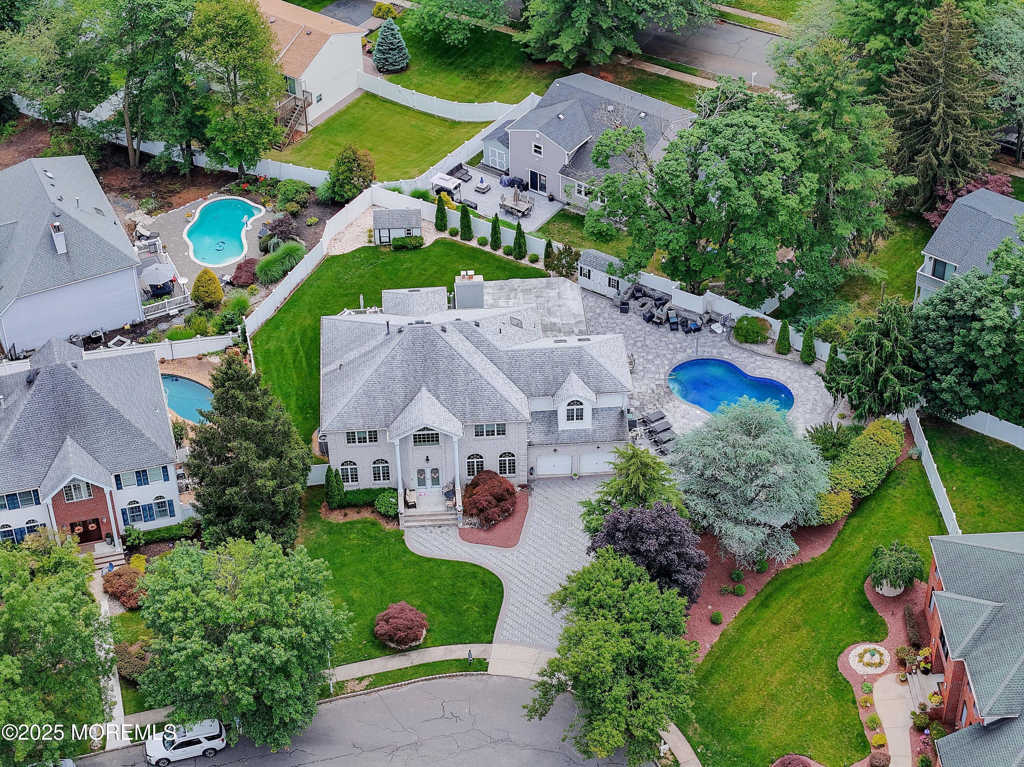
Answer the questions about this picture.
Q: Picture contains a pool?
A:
Yes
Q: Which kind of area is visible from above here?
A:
residential area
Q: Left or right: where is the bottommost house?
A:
right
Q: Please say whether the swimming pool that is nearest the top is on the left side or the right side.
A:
left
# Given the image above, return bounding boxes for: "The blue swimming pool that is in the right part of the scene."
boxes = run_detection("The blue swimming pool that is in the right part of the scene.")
[663,355,799,425]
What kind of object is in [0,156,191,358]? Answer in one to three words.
house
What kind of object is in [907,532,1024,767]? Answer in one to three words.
house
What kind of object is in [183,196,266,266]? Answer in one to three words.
swimming pool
